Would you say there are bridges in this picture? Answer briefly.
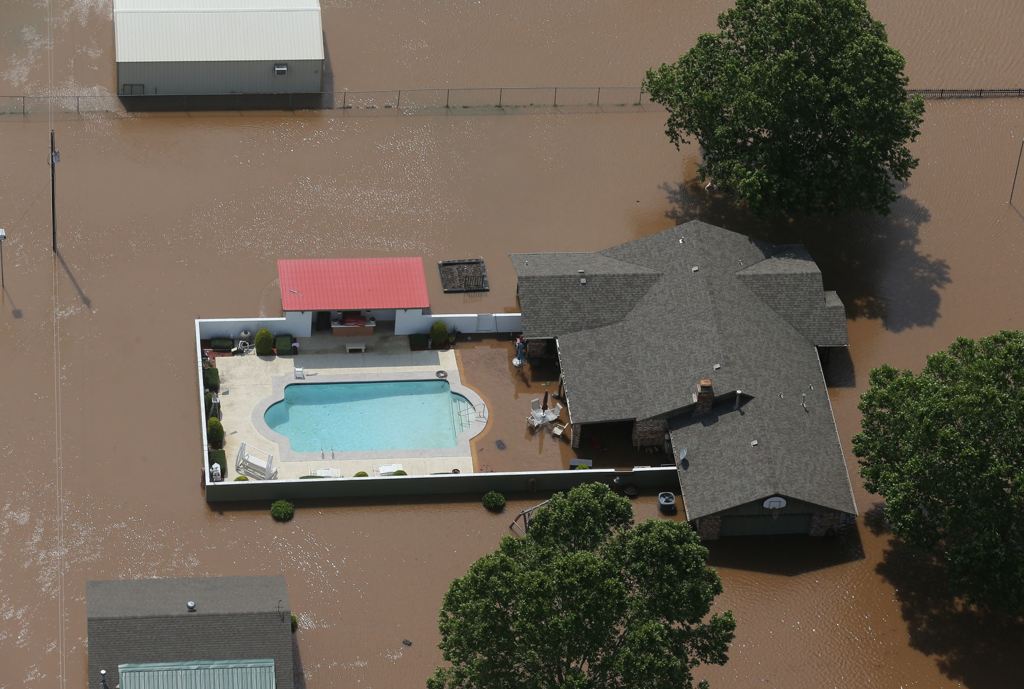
No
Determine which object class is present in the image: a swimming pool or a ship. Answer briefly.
swimming pool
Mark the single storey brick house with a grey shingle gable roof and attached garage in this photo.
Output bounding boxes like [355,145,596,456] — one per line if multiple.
[509,221,859,540]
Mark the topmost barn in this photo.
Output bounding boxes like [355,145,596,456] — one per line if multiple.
[113,0,325,94]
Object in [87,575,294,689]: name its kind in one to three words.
shed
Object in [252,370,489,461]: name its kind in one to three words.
swimming pool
